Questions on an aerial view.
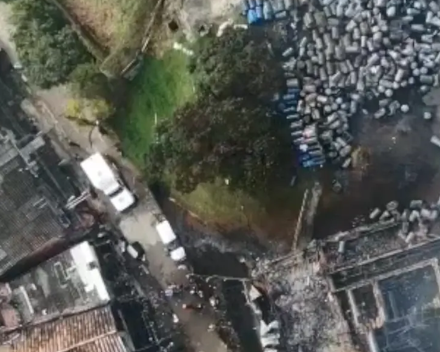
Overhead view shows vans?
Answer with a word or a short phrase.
Yes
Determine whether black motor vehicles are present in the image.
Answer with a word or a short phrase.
No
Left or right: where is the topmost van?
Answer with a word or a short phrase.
left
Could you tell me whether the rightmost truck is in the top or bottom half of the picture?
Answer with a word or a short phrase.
bottom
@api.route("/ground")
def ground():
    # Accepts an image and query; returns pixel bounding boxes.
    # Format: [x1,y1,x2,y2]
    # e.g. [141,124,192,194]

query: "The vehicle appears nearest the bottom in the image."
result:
[148,217,186,265]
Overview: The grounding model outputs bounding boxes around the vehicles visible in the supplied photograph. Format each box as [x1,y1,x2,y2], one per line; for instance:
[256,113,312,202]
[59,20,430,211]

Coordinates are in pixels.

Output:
[70,151,133,213]
[148,217,186,265]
